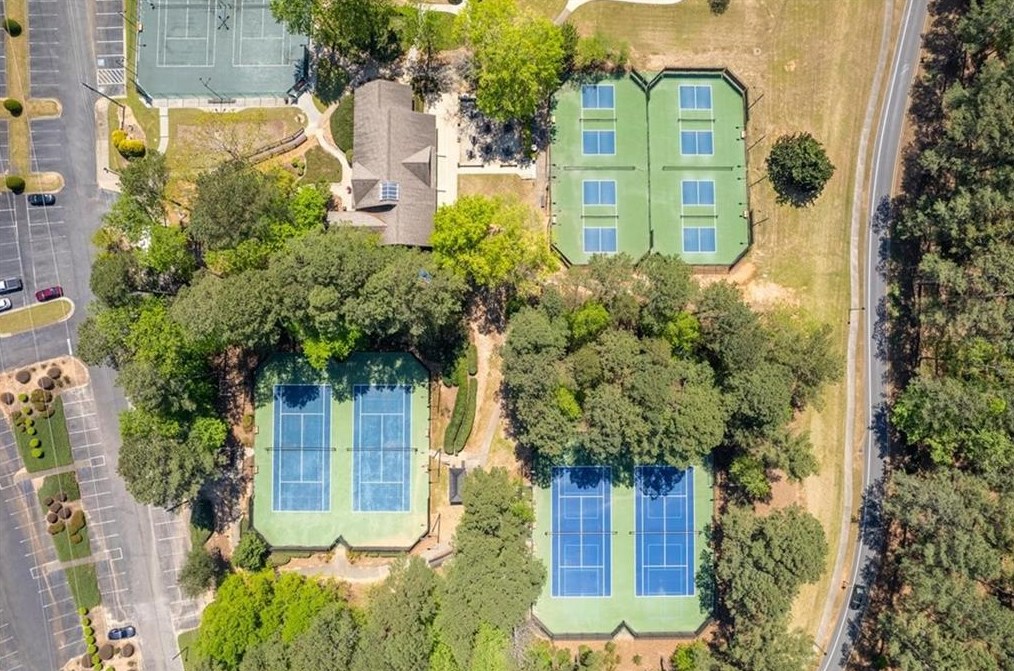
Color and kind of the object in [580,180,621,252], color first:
blue sports court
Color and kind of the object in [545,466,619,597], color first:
blue tennis court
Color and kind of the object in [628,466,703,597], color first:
blue tennis court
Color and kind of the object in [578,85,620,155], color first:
blue sports court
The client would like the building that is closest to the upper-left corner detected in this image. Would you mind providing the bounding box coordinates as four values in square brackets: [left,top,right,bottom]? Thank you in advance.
[326,80,438,246]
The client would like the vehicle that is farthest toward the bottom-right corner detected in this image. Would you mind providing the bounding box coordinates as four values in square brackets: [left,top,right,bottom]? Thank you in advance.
[852,586,868,612]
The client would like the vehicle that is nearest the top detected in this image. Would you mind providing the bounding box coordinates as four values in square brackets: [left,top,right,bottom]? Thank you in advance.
[26,192,53,205]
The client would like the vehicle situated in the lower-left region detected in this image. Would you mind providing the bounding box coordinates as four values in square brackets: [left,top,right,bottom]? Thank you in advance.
[106,626,134,640]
